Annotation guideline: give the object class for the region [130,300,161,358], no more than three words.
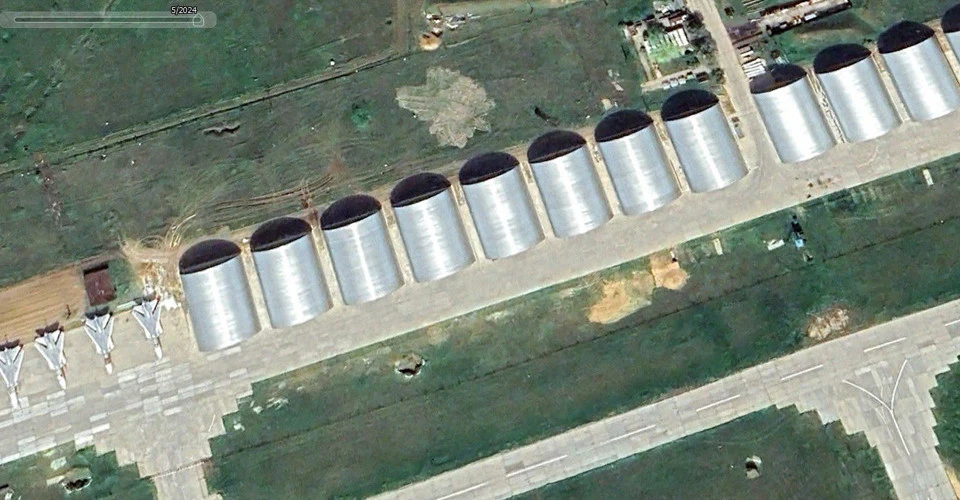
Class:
airplane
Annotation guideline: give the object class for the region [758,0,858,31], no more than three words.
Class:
building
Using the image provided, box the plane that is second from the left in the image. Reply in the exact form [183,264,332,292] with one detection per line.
[36,332,66,391]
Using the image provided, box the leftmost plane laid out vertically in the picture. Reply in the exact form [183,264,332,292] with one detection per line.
[0,349,21,410]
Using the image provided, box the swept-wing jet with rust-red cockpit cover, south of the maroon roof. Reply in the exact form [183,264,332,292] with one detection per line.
[82,315,111,375]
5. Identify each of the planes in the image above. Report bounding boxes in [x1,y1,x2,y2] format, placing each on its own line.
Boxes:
[36,332,66,391]
[82,315,111,375]
[0,349,21,410]
[130,300,161,358]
